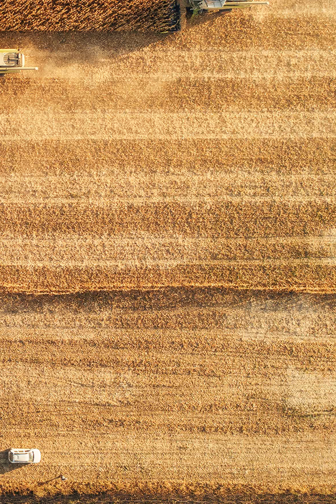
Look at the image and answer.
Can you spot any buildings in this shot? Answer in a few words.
No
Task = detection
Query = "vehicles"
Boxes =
[159,0,269,33]
[0,46,38,75]
[8,448,40,464]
